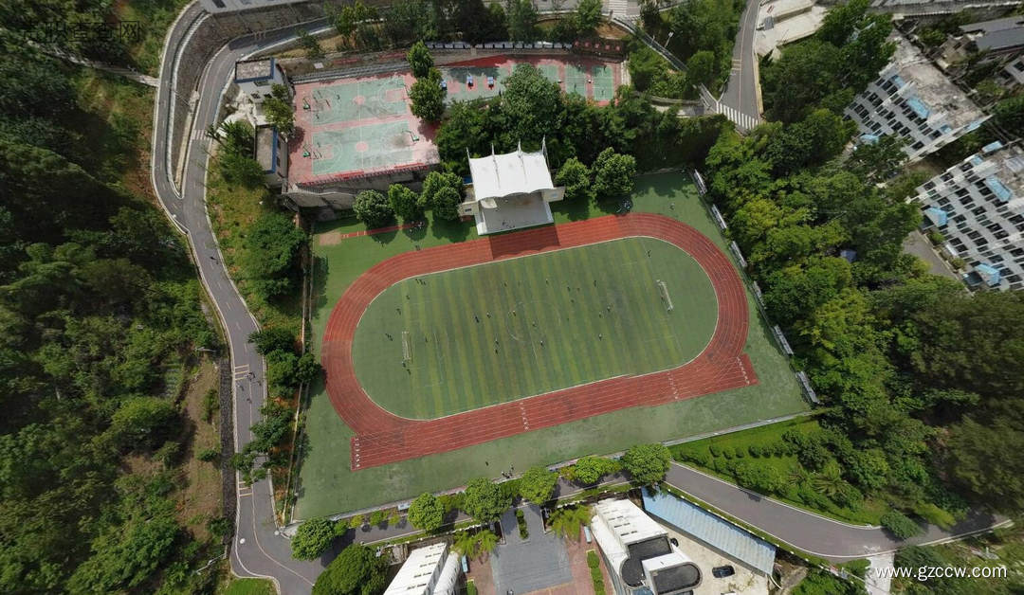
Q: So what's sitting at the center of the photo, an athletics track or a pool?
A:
athletics track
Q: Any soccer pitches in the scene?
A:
Yes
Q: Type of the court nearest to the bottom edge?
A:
basketball court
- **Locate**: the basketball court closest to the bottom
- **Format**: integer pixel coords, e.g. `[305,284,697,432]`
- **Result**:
[312,120,413,175]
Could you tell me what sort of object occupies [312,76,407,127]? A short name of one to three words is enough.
basketball court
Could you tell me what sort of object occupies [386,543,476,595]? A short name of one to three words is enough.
building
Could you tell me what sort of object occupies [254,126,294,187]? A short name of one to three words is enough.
house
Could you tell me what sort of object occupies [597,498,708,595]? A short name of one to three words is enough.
building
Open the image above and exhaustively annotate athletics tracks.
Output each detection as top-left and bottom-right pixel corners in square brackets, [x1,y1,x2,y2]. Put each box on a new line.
[321,212,761,471]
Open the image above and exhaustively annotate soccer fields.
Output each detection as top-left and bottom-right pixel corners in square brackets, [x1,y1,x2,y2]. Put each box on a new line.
[352,237,718,419]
